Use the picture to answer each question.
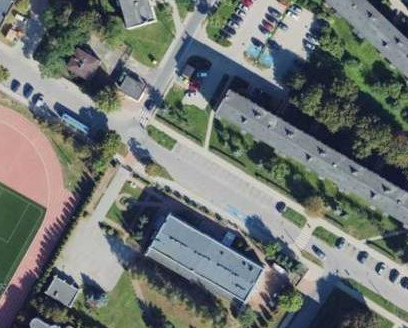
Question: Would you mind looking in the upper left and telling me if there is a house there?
Yes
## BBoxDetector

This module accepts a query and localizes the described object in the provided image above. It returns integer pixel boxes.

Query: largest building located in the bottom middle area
[148,214,263,305]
